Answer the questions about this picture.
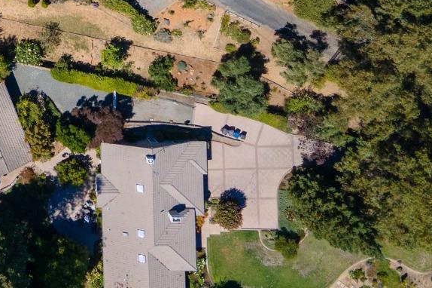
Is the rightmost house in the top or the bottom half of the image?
bottom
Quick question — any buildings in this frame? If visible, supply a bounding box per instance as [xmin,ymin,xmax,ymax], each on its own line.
[94,133,209,288]
[0,82,32,176]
